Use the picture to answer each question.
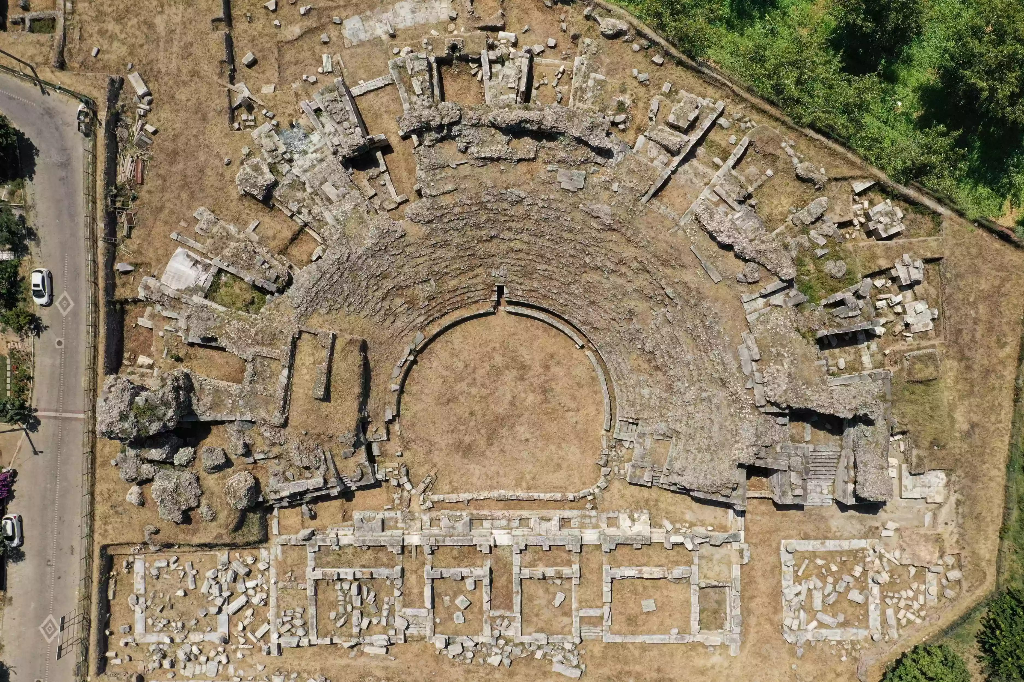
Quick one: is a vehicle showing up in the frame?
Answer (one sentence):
Yes, this view includes a vehicle.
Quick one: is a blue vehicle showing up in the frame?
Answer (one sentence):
No, there's no blue vehicle here.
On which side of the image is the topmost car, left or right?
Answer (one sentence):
The topmost car is on the left side of the image.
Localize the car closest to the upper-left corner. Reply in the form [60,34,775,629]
[31,268,56,307]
